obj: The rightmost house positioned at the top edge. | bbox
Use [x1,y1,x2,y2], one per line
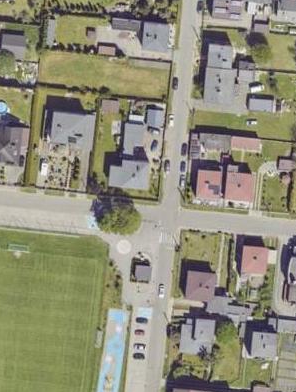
[275,0,296,26]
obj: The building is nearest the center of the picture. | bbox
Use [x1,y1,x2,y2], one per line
[109,163,150,189]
